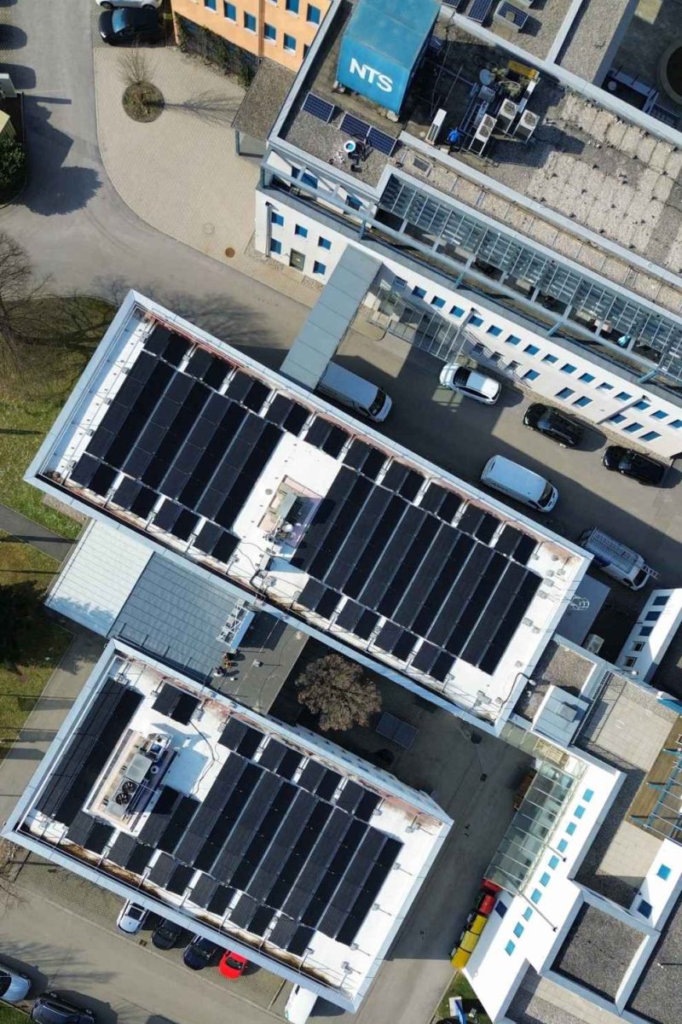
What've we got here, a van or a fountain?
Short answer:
van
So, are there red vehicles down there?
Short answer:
Yes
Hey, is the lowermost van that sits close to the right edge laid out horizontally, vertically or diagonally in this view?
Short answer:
diagonally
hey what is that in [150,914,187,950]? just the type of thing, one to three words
car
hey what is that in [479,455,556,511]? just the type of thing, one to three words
van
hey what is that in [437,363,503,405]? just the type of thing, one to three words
car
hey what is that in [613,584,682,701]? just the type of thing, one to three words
building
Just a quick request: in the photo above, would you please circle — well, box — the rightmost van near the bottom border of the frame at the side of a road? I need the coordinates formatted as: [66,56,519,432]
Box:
[276,981,324,1024]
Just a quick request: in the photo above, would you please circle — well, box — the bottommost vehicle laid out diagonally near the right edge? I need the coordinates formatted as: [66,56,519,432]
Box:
[576,530,665,592]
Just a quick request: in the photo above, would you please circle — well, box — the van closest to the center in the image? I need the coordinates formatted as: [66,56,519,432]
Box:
[318,363,390,421]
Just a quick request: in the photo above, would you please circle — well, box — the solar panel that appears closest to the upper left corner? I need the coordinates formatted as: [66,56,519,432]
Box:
[304,96,334,121]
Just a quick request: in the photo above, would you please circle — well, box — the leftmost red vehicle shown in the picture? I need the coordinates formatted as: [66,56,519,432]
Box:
[220,949,254,981]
